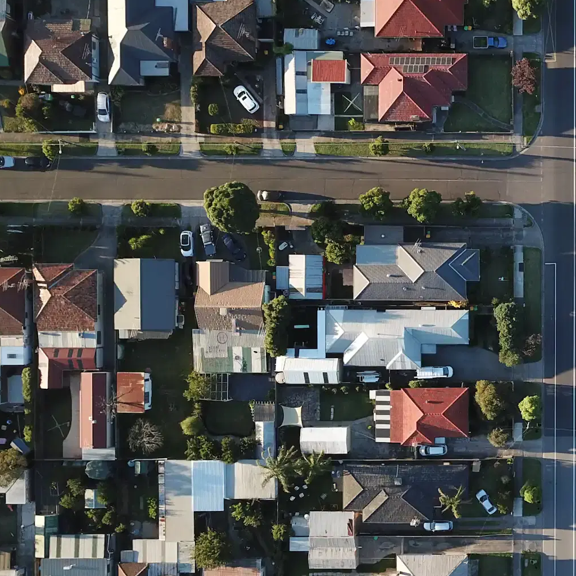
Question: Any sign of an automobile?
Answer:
Yes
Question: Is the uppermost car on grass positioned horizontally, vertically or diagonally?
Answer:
diagonally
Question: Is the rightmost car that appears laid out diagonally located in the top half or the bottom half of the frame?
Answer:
bottom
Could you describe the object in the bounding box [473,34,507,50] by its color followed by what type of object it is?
blue vehicle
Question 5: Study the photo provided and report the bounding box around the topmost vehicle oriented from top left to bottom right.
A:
[234,85,261,115]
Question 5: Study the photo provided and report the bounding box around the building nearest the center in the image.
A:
[276,254,329,300]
